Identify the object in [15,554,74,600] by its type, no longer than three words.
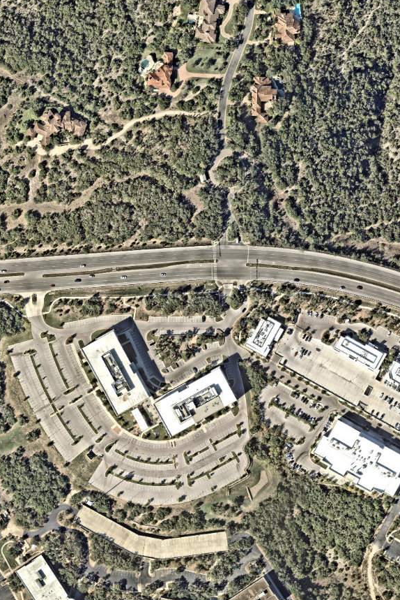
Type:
building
